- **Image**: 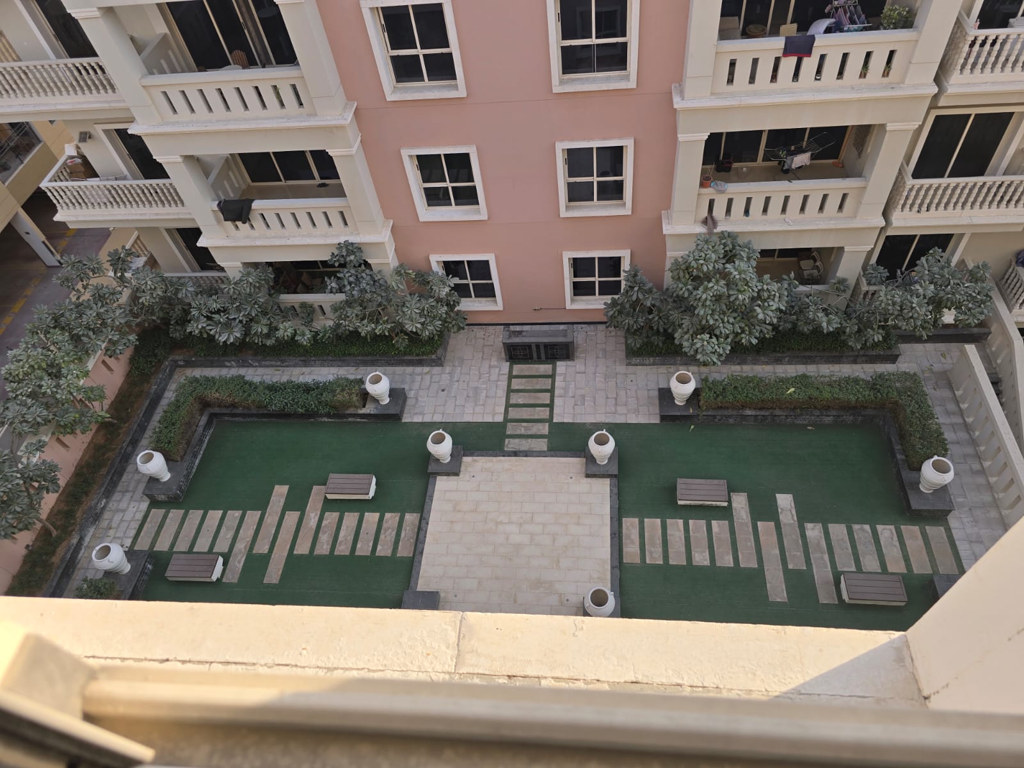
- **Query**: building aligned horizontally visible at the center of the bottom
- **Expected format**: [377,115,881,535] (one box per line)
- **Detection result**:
[0,597,1015,715]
